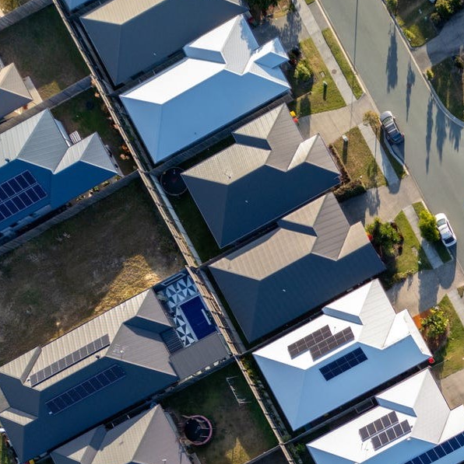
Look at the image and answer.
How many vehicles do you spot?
2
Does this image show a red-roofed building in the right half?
No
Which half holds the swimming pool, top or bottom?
bottom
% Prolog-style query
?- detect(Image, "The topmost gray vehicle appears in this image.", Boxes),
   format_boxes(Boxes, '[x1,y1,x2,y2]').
[377,103,406,148]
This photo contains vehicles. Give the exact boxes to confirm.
[430,209,458,248]
[377,103,406,148]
